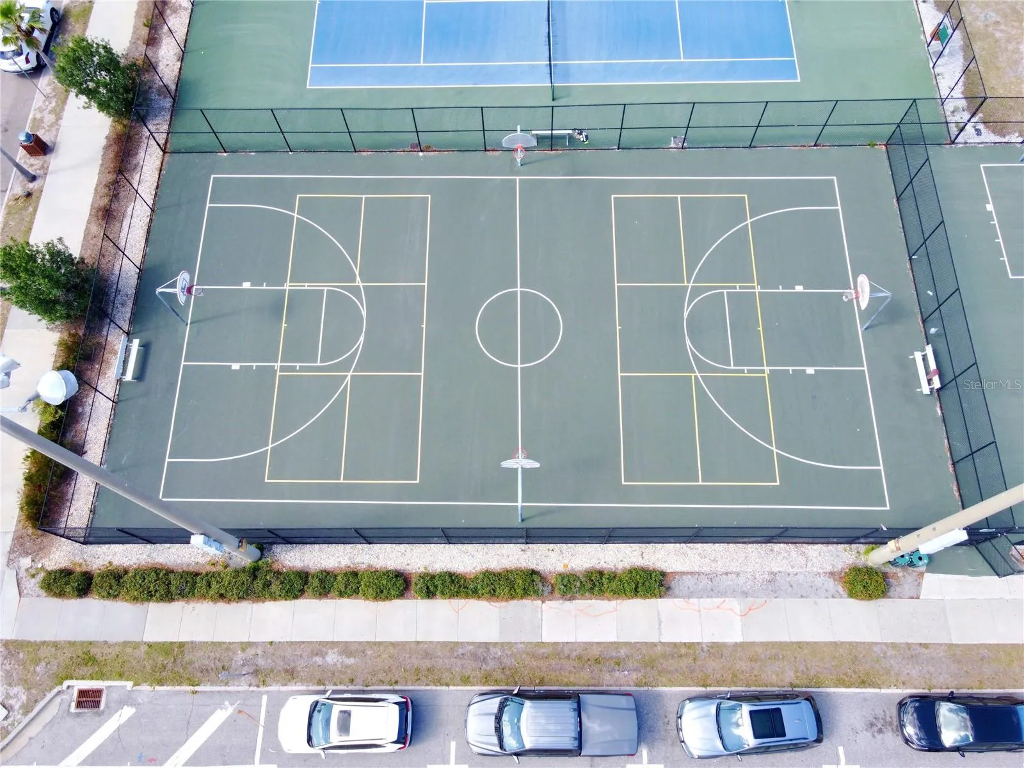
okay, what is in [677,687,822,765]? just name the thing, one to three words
car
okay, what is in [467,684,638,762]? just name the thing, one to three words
truck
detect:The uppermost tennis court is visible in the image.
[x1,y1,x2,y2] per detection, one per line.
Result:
[166,0,950,153]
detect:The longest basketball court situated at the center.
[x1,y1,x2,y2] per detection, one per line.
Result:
[91,145,971,541]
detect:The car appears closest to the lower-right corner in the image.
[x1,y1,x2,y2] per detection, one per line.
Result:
[892,688,1024,763]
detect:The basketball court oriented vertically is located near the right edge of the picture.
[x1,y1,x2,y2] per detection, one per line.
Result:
[889,142,1024,542]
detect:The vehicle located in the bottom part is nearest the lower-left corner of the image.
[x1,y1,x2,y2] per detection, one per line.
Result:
[279,686,414,763]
